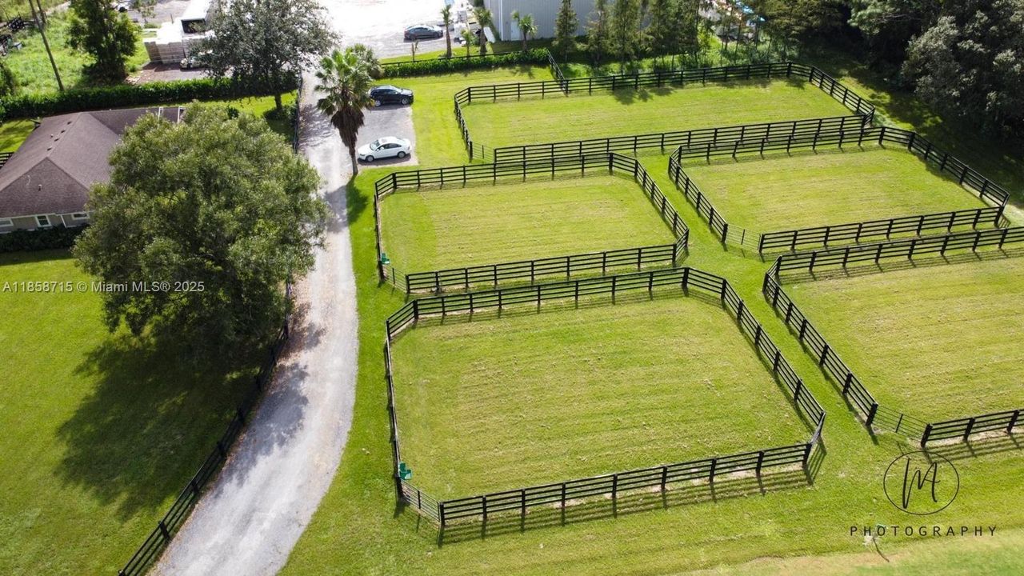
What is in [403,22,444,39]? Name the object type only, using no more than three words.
car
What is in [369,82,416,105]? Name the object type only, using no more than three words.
car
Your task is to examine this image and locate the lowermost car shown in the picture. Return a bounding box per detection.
[358,137,413,161]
